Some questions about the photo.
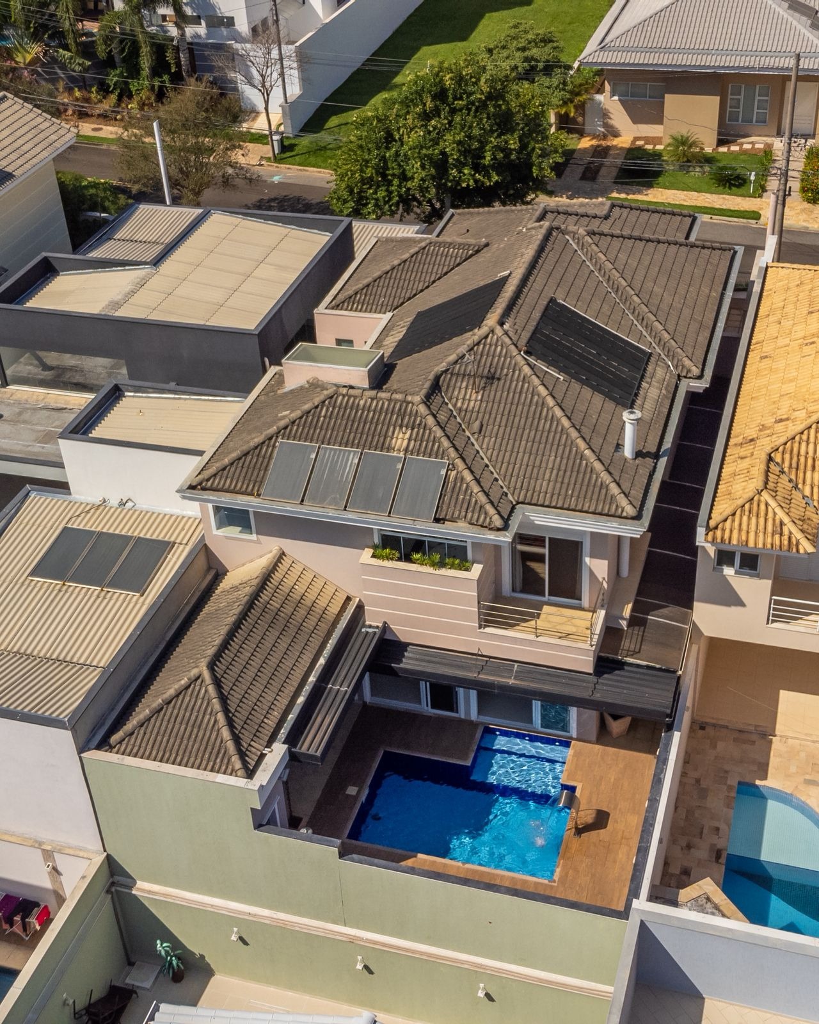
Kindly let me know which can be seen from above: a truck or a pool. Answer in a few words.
pool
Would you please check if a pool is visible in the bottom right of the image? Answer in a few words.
Yes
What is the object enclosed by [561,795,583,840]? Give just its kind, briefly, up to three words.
fountain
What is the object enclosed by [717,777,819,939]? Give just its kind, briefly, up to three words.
swimming pool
